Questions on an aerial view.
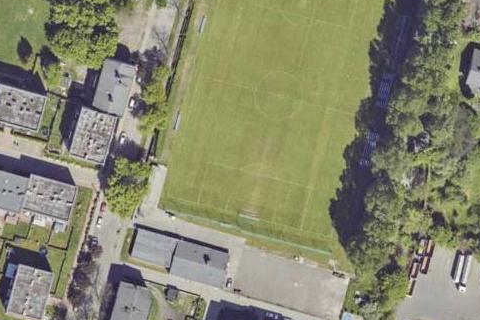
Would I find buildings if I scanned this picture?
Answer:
Yes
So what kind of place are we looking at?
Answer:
sports ground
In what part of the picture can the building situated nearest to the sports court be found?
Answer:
bottom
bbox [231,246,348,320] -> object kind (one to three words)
sports court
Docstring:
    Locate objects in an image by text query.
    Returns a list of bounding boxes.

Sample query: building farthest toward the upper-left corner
[0,83,48,130]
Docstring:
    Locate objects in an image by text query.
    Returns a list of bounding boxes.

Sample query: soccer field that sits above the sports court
[161,0,393,243]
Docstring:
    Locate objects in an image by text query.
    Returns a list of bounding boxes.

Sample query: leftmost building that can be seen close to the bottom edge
[5,264,54,320]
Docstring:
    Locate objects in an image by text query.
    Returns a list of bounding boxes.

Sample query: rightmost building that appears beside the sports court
[170,240,229,287]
